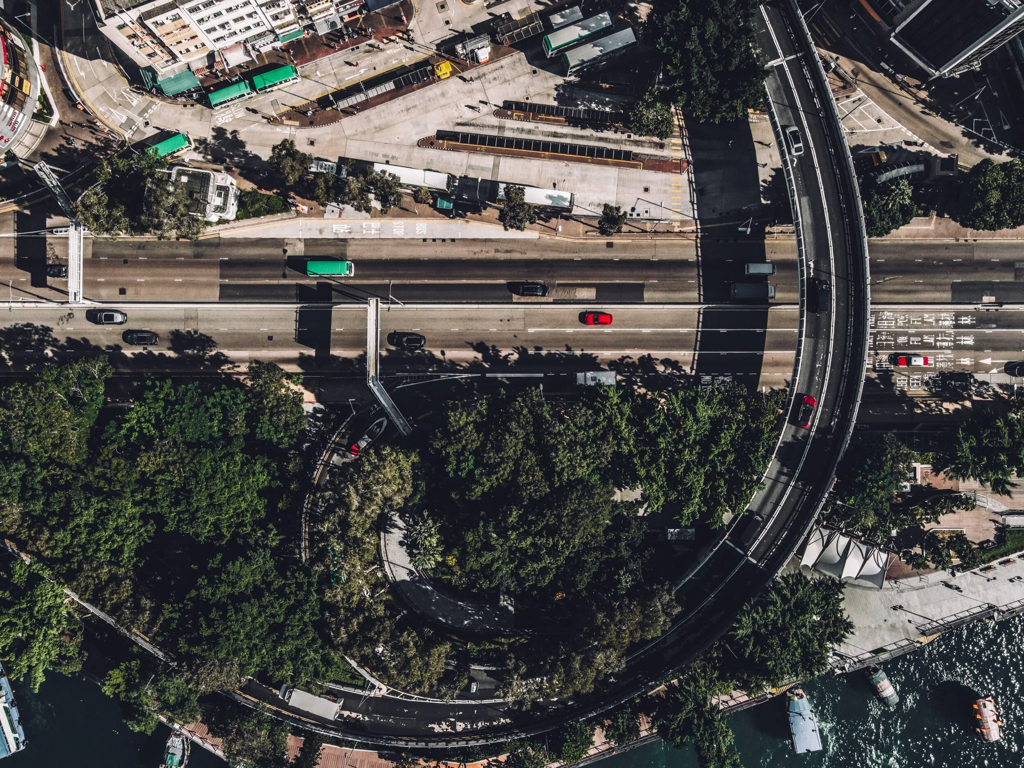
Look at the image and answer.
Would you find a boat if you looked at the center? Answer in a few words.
No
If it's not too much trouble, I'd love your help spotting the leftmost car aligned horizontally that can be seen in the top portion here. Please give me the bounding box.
[44,265,70,278]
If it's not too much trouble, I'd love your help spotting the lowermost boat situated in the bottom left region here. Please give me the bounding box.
[161,729,187,768]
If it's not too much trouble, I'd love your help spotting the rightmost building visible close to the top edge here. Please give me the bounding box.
[870,0,1024,91]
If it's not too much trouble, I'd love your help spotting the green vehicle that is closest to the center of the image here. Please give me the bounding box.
[306,260,350,276]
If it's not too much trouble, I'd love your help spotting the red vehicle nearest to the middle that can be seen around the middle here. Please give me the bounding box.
[586,312,613,326]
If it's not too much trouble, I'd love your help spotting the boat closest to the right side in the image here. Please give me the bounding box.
[971,683,1005,746]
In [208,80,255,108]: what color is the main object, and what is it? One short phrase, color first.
green vehicle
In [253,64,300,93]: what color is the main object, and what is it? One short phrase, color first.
green vehicle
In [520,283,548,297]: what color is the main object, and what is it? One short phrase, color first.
black car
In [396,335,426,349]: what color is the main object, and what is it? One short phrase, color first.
black car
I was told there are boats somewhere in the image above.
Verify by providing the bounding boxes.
[971,683,1005,746]
[863,663,903,712]
[781,690,818,756]
[0,644,31,766]
[161,729,187,768]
